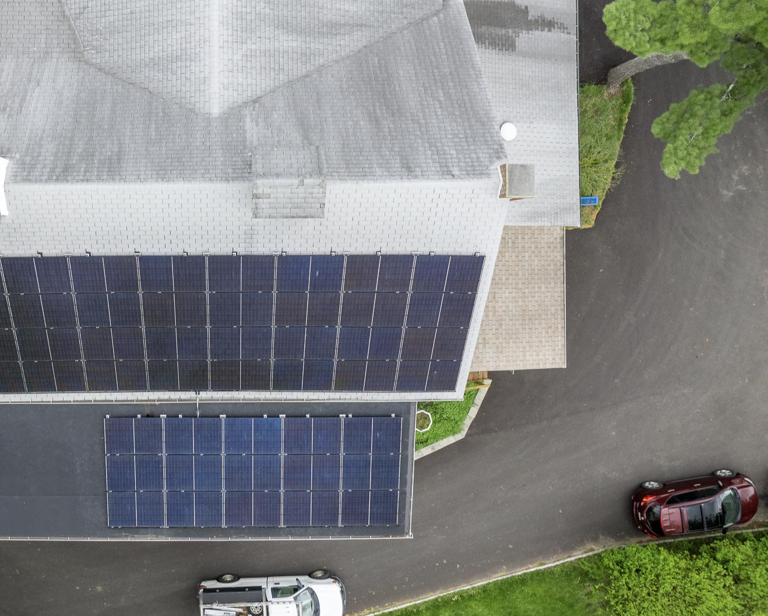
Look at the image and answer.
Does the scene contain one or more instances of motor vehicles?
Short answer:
Yes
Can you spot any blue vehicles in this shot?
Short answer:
No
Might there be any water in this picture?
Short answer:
No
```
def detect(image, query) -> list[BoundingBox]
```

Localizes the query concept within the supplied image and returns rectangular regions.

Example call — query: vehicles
[199,569,348,616]
[628,469,760,540]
